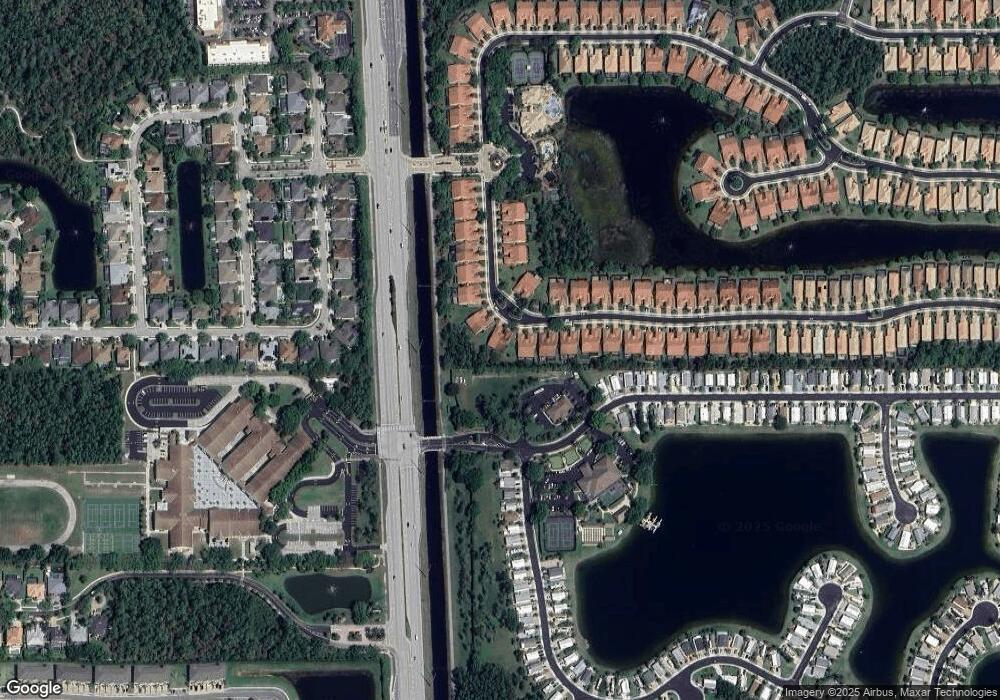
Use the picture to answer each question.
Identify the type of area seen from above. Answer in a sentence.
It's a residential area.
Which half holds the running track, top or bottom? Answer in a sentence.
The bottom half of the photo is where the running track is.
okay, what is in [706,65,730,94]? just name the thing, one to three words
house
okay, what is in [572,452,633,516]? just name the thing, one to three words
building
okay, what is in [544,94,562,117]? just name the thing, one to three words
swimming pool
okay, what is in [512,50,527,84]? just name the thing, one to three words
tennis court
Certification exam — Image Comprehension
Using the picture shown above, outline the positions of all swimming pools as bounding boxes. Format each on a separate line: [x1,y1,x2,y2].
[544,144,553,160]
[544,94,562,117]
